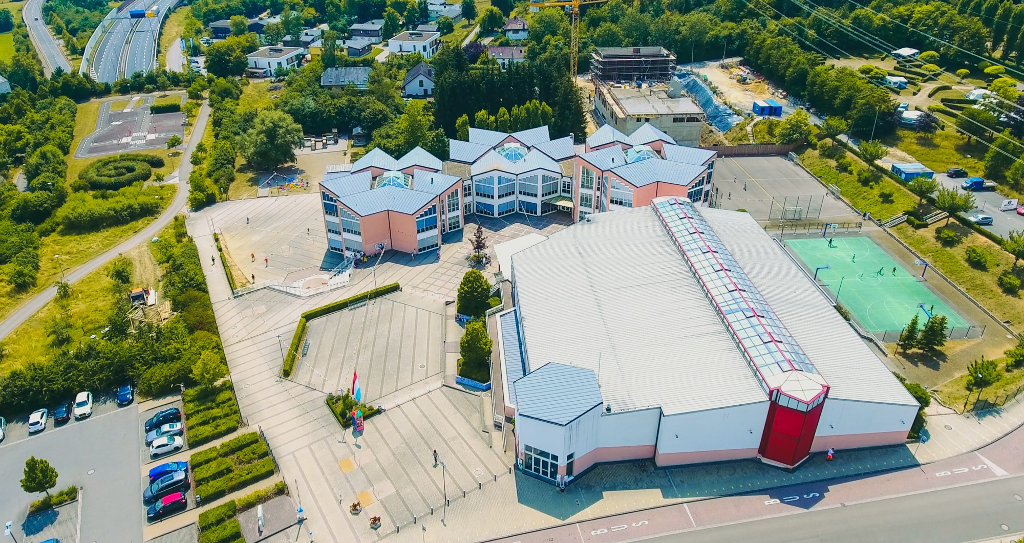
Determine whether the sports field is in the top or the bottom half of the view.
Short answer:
top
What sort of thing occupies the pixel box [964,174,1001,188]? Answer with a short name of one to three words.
vehicle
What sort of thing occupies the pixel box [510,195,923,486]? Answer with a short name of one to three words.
building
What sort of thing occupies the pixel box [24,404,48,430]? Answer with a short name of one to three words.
car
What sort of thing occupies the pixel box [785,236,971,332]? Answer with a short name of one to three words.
sports court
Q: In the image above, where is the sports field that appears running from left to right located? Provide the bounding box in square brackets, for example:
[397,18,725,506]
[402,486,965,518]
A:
[710,150,864,217]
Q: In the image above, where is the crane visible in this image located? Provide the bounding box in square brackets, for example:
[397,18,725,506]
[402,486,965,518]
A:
[531,0,675,71]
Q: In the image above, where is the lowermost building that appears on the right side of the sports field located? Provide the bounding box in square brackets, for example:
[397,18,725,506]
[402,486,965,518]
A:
[889,163,935,185]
